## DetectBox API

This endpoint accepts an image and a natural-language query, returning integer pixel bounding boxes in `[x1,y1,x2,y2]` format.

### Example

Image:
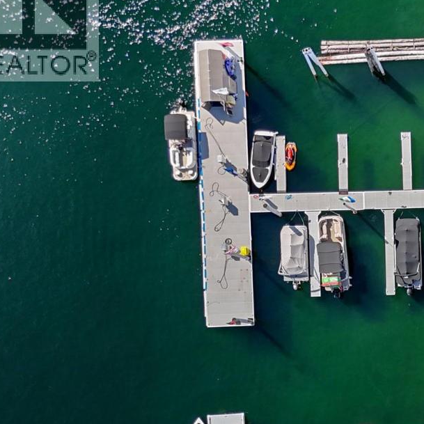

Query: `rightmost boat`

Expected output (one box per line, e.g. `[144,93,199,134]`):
[395,209,424,297]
